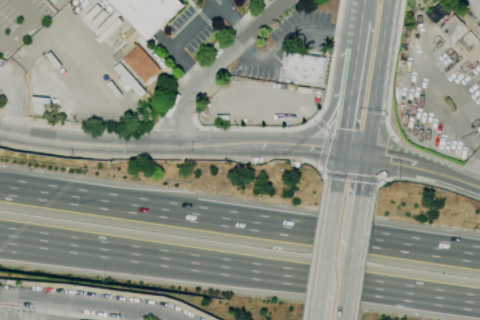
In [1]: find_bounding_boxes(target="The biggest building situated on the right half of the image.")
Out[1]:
[282,53,327,86]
